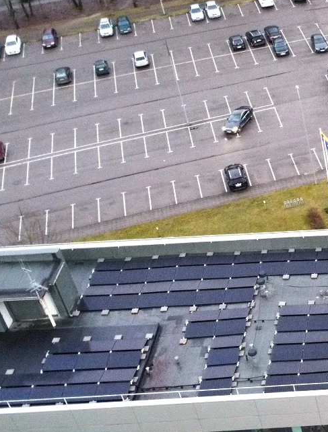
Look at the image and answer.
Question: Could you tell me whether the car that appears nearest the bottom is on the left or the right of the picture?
right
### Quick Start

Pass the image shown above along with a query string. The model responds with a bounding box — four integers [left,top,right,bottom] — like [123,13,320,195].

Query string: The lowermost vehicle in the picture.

[224,166,250,195]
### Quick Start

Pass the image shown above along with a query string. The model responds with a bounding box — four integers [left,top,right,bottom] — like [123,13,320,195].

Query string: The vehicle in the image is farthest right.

[310,34,328,56]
